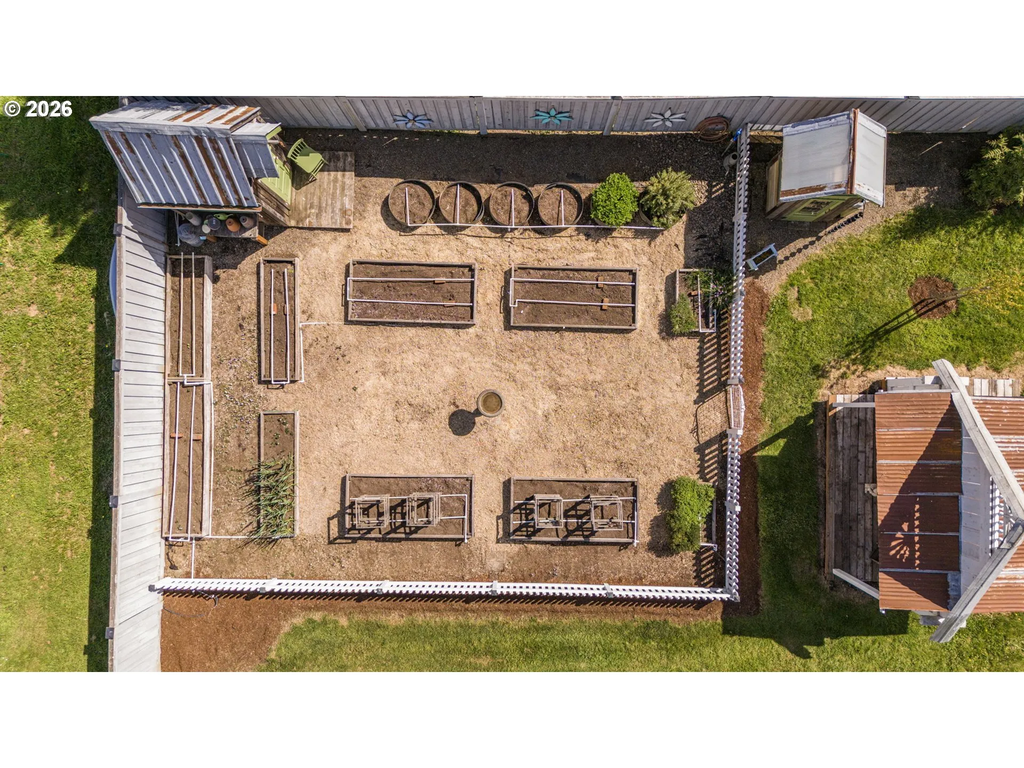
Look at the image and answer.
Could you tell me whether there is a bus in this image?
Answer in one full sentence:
No, no bus is visible in the view.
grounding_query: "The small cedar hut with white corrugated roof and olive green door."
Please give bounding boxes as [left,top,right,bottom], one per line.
[766,107,887,219]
